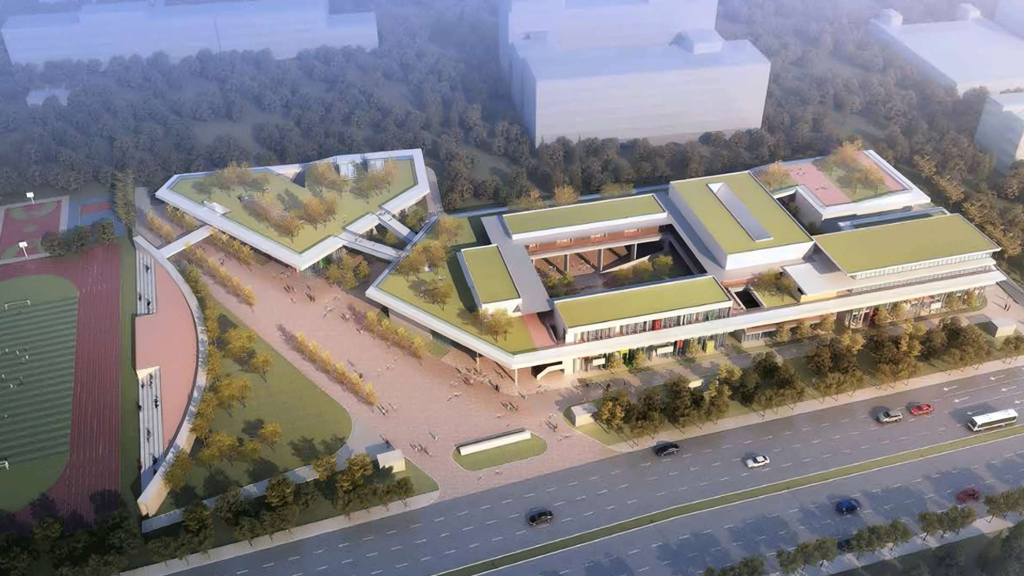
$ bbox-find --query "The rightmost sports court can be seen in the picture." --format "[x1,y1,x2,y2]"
[68,189,127,242]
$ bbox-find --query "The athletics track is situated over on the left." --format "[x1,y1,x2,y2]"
[0,240,122,565]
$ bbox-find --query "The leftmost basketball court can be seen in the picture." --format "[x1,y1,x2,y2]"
[0,196,71,264]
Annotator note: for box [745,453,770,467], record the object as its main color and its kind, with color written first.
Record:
white car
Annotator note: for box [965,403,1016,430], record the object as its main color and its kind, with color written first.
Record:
white bus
